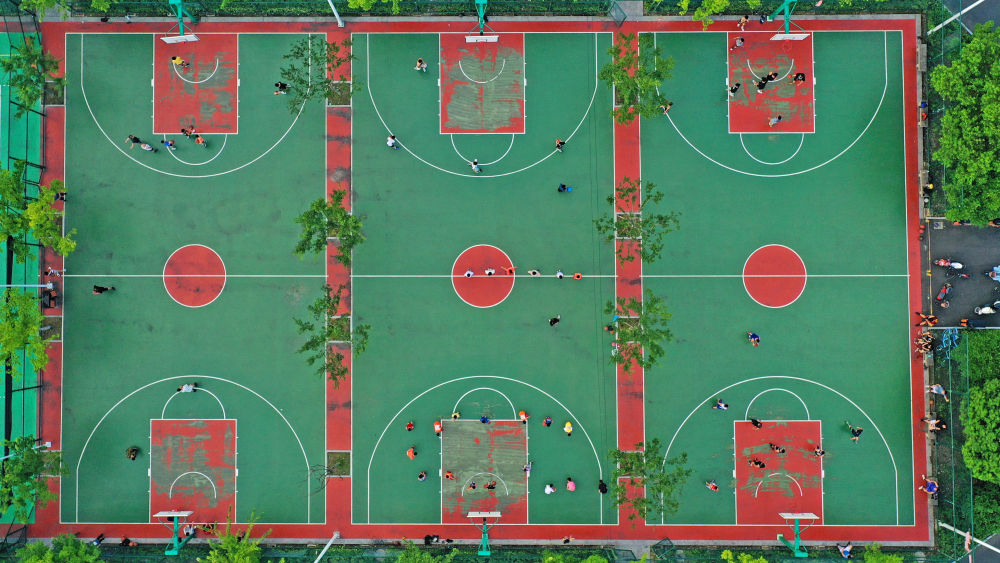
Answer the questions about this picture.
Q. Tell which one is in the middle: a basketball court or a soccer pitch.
basketball court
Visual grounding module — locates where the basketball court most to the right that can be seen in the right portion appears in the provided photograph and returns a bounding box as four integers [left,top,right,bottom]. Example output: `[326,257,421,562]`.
[640,30,913,525]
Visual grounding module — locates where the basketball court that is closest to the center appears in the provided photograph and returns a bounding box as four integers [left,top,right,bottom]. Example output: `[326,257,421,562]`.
[351,31,617,524]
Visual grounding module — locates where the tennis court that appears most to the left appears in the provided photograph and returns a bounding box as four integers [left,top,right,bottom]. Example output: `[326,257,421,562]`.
[0,32,49,521]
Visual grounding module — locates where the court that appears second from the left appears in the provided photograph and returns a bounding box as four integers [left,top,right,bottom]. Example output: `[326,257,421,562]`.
[60,33,326,524]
